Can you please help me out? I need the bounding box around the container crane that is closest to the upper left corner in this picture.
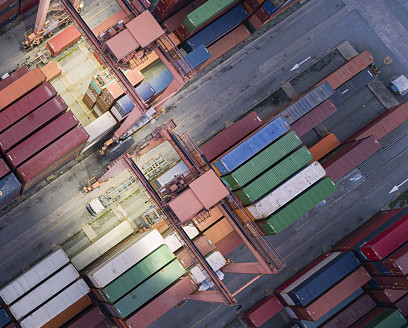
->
[18,0,203,154]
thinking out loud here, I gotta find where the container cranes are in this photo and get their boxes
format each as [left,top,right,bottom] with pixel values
[79,115,288,315]
[18,0,203,154]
